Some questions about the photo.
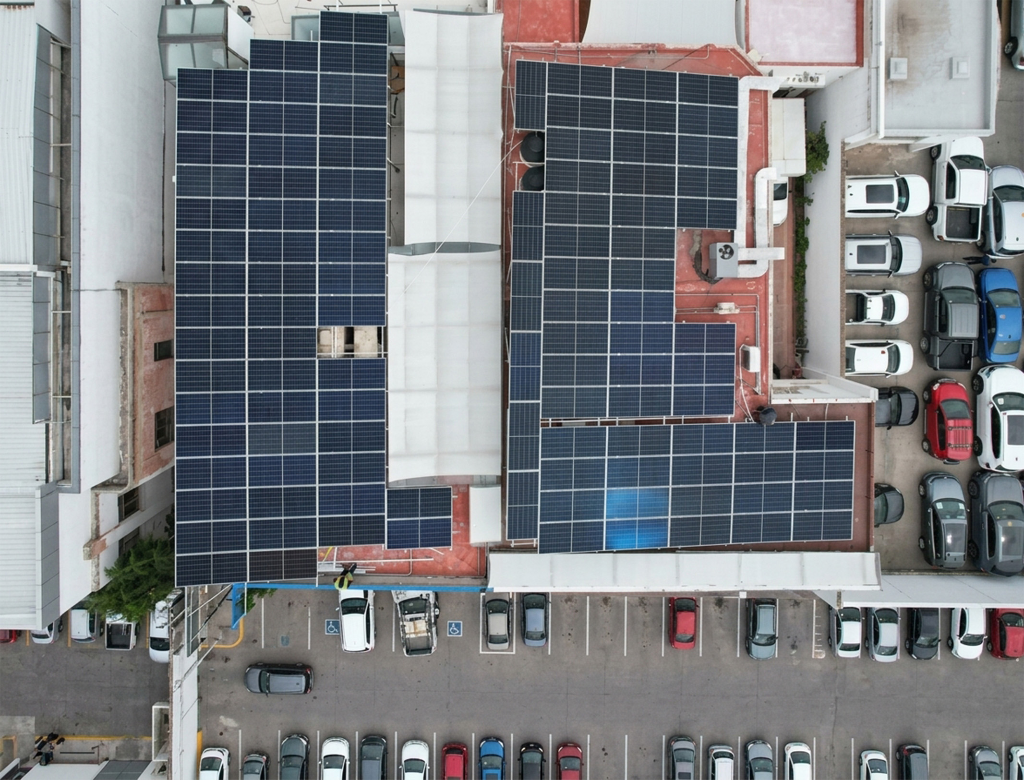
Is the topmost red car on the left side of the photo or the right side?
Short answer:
right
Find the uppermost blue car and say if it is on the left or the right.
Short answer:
right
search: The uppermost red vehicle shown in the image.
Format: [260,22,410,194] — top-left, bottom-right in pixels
[922,379,978,465]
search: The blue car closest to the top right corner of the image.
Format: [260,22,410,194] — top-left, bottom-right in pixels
[972,268,1024,361]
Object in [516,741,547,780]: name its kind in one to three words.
car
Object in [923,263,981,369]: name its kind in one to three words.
truck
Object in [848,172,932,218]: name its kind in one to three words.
car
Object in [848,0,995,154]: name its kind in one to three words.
building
